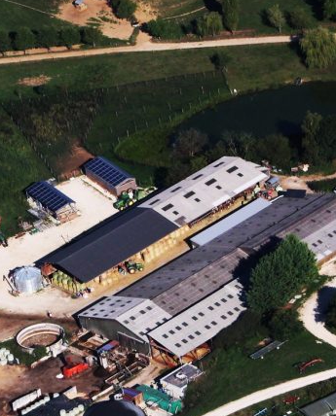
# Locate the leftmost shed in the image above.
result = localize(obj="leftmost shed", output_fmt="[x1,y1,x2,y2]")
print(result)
[26,180,77,223]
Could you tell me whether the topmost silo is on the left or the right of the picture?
left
